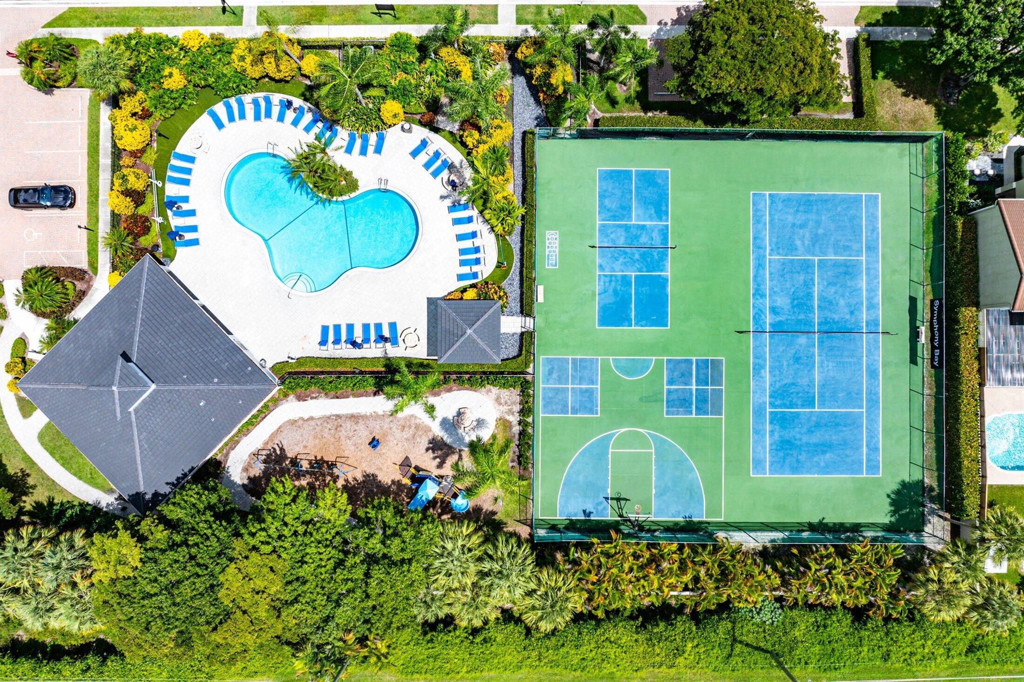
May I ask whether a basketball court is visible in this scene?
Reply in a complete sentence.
Yes, I can see a basketball court in this picture.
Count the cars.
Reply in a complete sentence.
I count just 1 car.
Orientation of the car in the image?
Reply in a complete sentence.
In this picture, the car lies horizontally.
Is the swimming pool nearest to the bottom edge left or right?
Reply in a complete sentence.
The swimming pool nearest to the bottom edge is on the right side of the image.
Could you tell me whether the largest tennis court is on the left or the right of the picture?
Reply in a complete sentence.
The largest tennis court is on the right side of the image.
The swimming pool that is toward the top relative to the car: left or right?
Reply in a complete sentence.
You can see the swimming pool that is toward the top positioned to the right of the car.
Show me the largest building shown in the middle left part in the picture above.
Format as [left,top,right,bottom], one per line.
[16,253,283,514]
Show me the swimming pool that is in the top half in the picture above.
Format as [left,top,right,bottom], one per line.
[220,138,423,298]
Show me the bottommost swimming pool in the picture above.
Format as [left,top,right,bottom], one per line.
[988,410,1024,473]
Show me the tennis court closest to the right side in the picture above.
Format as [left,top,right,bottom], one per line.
[751,192,882,476]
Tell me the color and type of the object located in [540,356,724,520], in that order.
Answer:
blue basketball court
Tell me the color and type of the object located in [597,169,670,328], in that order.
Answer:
blue sports court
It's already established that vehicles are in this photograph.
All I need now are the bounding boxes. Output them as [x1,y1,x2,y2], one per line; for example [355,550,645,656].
[10,183,72,211]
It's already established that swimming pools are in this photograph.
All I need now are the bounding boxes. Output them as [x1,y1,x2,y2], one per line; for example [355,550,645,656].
[220,138,423,298]
[988,410,1024,473]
